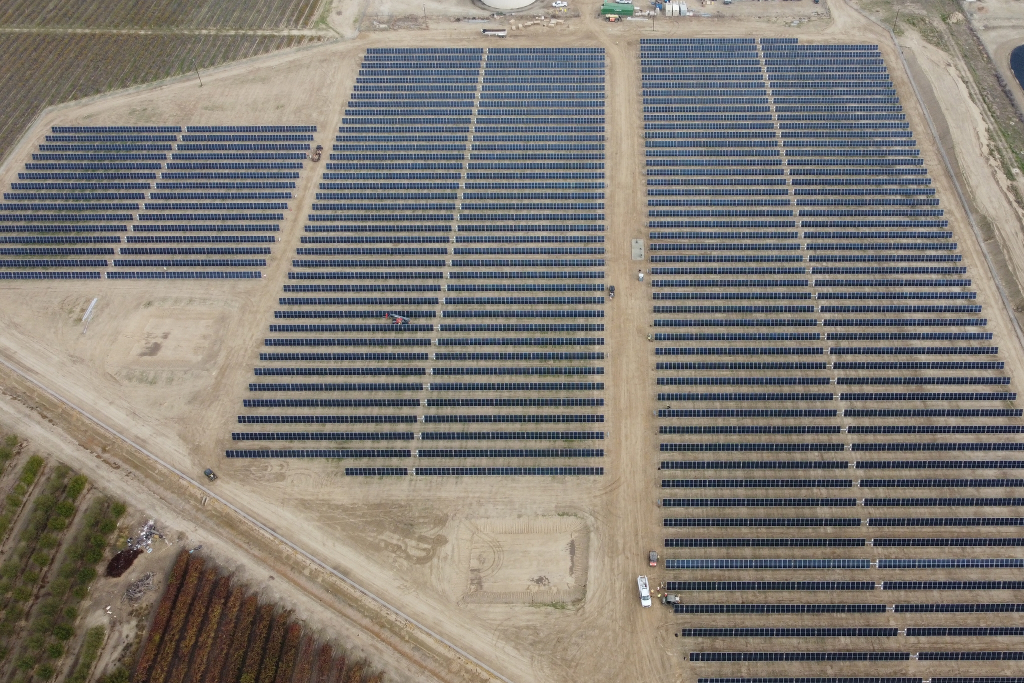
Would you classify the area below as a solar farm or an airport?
solar farm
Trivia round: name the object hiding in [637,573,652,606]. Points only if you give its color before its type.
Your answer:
white vehicle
